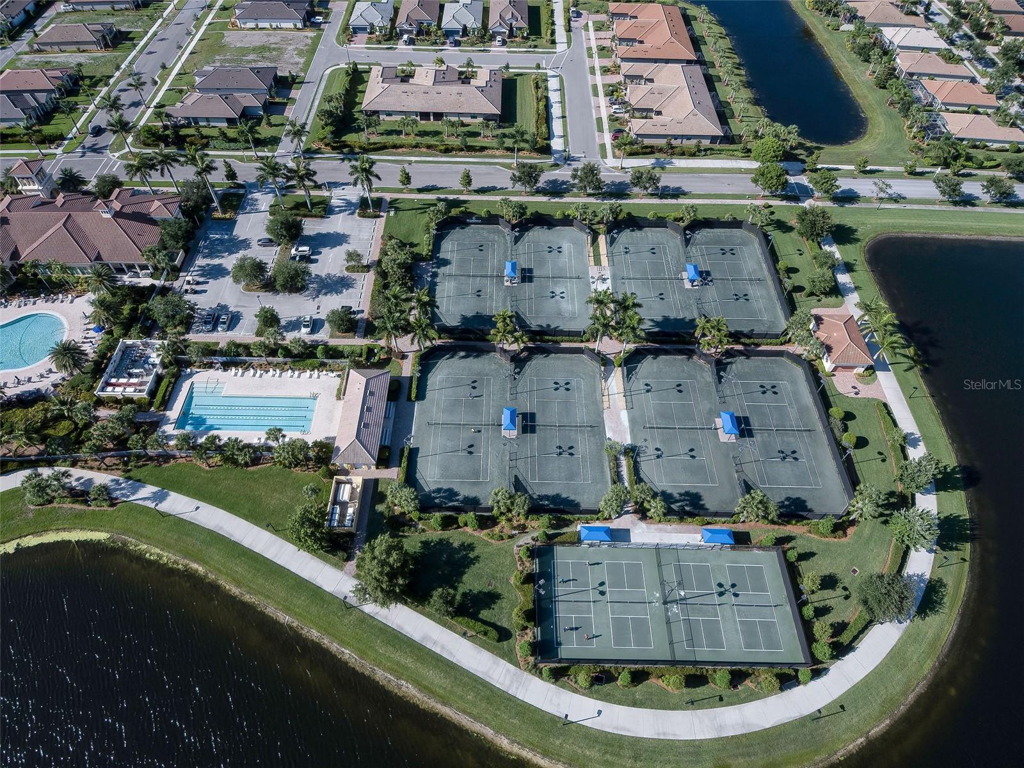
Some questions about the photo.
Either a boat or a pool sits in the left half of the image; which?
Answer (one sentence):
Looking in the left half of the image, you will find a pool.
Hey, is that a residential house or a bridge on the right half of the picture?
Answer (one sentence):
The one visible on the right half of the picture is a residential house.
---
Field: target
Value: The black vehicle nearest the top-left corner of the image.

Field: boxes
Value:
[86,124,104,137]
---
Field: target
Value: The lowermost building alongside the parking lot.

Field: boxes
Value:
[331,368,391,470]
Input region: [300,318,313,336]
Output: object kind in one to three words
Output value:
vehicle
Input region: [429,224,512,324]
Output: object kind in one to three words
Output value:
tennis court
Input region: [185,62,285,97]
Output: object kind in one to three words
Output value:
house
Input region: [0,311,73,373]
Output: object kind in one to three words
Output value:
swimming pool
